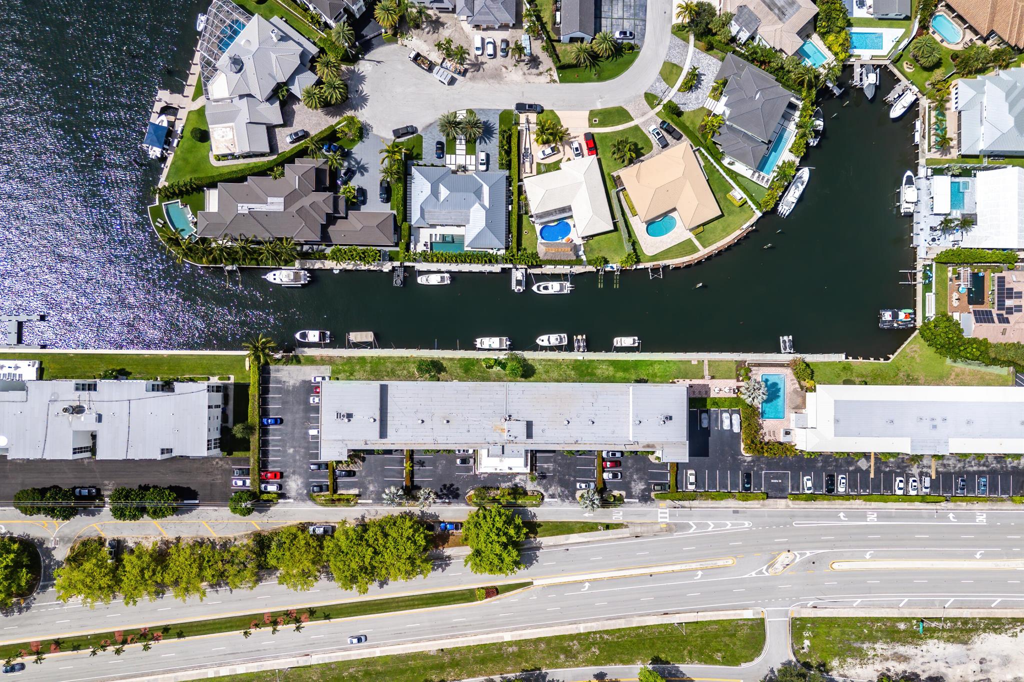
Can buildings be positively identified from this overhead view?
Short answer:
Yes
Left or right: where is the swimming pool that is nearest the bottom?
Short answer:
right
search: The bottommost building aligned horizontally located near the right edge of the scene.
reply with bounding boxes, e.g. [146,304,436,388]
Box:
[779,384,1024,455]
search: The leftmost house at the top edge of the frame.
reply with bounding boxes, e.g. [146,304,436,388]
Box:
[203,13,320,157]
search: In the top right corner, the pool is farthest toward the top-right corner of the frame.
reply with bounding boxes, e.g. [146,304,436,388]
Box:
[930,13,964,45]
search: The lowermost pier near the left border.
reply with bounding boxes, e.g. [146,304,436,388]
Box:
[0,314,41,348]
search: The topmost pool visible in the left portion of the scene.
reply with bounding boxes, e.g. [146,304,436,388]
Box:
[216,18,248,53]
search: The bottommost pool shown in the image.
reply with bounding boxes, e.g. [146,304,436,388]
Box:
[761,373,786,420]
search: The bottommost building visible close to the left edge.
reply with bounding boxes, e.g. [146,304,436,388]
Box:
[0,380,222,460]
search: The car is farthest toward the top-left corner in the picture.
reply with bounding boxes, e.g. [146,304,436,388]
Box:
[286,129,306,142]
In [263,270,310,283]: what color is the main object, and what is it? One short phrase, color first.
white boat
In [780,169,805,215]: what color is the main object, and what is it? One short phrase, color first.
white boat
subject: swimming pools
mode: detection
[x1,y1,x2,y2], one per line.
[645,214,677,238]
[216,18,248,53]
[539,220,572,243]
[797,39,829,68]
[761,373,786,420]
[970,272,984,304]
[850,31,884,50]
[930,13,964,45]
[429,233,466,254]
[756,126,795,177]
[951,180,966,211]
[162,199,197,237]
